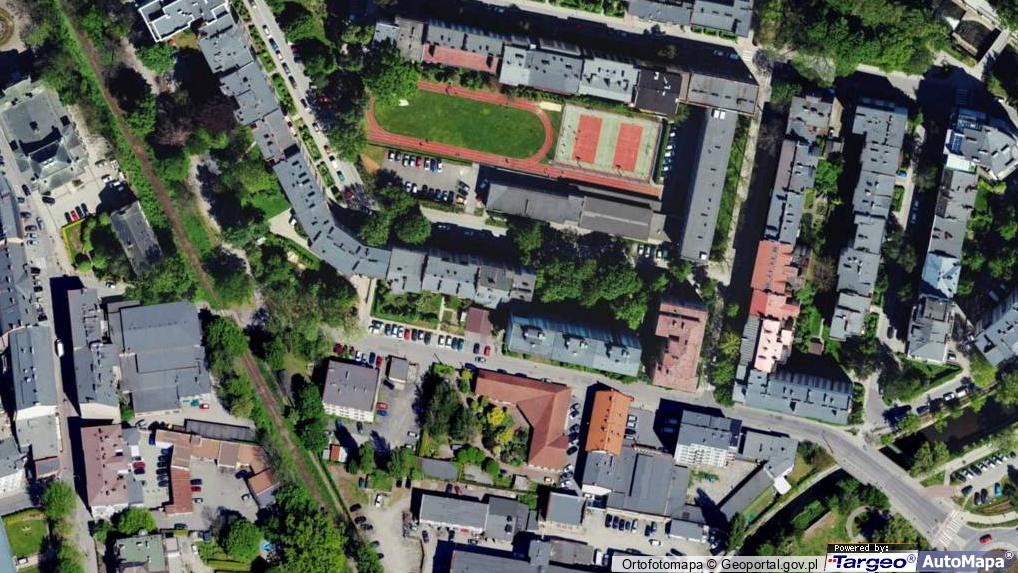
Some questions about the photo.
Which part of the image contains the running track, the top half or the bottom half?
top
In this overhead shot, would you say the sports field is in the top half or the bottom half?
top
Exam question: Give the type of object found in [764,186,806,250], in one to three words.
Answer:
house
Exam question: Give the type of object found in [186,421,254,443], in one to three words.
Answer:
shed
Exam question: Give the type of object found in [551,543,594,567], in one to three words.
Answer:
shed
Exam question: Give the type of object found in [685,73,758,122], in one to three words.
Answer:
building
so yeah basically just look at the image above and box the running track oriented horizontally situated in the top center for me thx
[367,82,662,195]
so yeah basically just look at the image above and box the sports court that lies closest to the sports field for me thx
[556,102,663,183]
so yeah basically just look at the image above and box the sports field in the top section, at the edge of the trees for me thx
[375,91,544,160]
